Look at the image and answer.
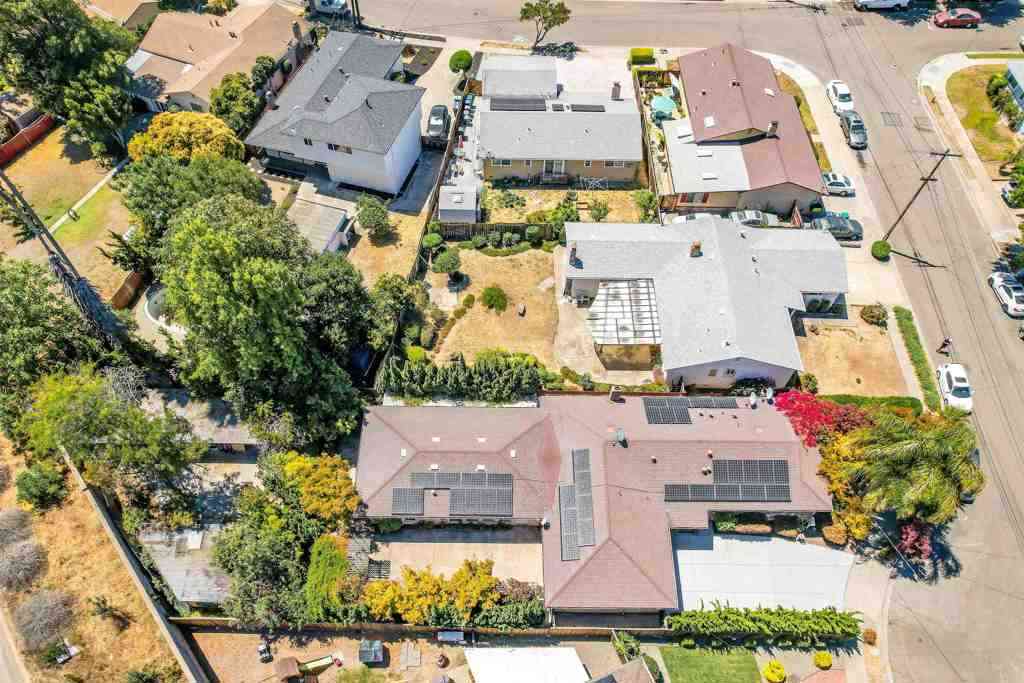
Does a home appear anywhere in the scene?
Yes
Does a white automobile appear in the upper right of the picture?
Yes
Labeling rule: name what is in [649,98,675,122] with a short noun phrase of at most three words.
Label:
umbrella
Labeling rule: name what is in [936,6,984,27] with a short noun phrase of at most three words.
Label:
car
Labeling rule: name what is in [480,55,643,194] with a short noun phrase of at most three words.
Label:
house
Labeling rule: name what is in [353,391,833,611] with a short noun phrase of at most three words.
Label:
house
